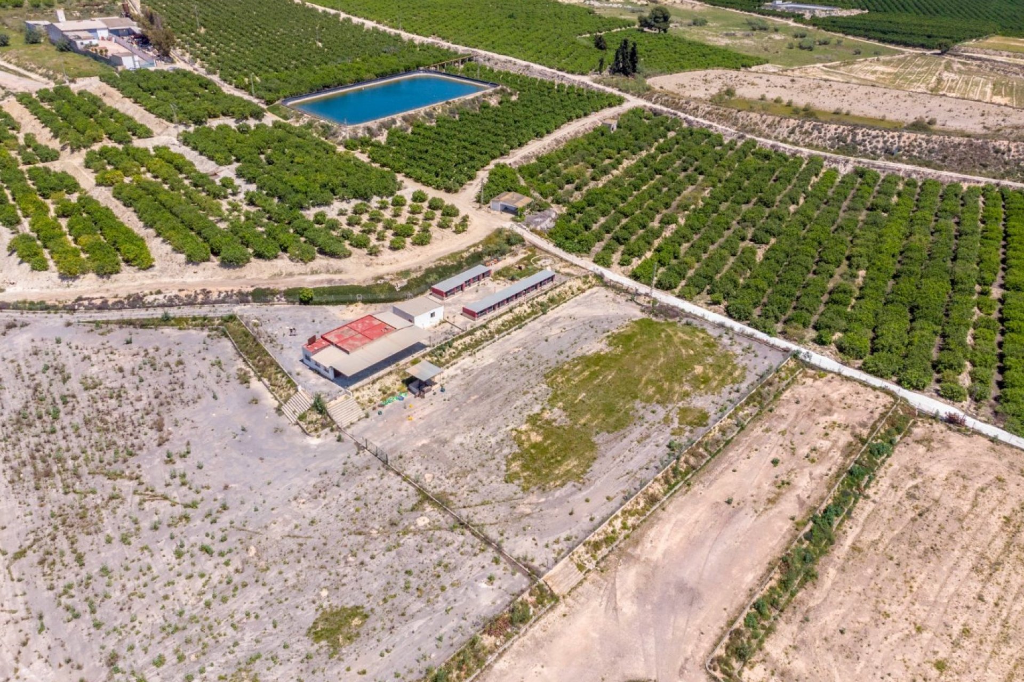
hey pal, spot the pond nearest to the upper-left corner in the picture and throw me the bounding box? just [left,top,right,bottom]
[283,69,497,126]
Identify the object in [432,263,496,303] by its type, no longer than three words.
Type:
shed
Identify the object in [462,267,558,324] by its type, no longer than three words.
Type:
shed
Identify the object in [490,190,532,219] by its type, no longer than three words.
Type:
building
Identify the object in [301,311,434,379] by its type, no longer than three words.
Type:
building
